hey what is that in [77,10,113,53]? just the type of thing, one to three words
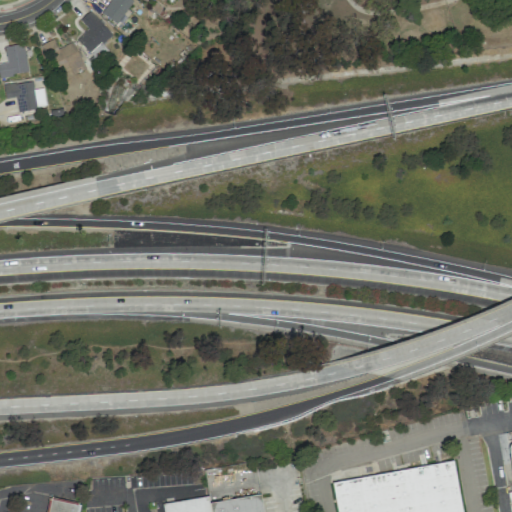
house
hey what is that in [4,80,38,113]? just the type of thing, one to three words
house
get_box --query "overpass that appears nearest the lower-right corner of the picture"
[325,299,512,388]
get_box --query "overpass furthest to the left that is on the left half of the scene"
[0,176,96,221]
